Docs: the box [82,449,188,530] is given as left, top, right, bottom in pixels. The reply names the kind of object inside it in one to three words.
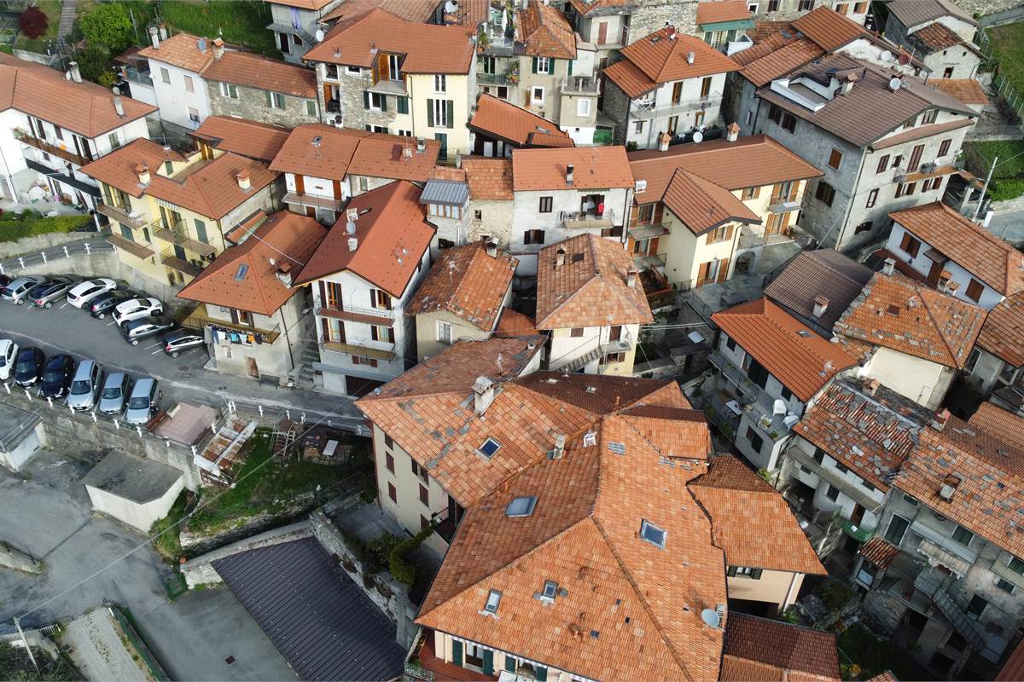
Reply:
building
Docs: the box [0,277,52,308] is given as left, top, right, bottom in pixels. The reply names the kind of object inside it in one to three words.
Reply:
car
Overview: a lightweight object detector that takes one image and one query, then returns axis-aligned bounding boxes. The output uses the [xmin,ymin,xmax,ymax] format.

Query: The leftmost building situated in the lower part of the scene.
[0,403,48,478]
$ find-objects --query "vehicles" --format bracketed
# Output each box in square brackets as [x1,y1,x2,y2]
[67,360,105,410]
[107,296,170,329]
[82,289,140,323]
[113,315,181,351]
[0,277,52,308]
[0,332,22,382]
[122,372,160,426]
[64,276,123,307]
[11,346,50,391]
[39,353,77,398]
[24,276,78,311]
[95,371,132,418]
